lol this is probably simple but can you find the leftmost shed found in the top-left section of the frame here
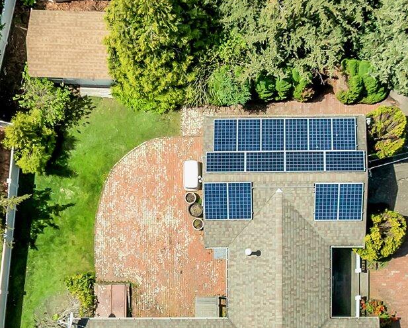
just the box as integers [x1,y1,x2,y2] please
[27,9,115,98]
